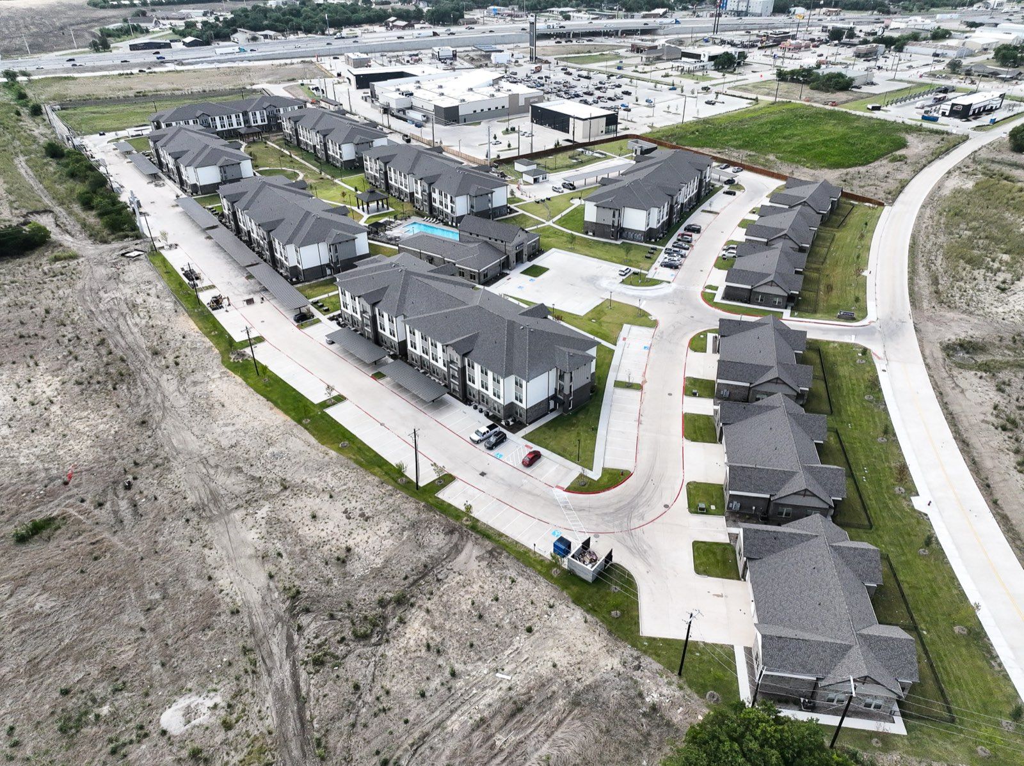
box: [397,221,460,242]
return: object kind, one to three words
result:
swimming pool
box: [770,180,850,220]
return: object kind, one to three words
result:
house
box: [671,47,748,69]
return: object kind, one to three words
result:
building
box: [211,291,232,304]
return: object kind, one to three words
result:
vehicle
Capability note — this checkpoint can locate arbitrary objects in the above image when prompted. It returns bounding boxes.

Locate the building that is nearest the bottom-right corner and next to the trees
[737,515,919,708]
